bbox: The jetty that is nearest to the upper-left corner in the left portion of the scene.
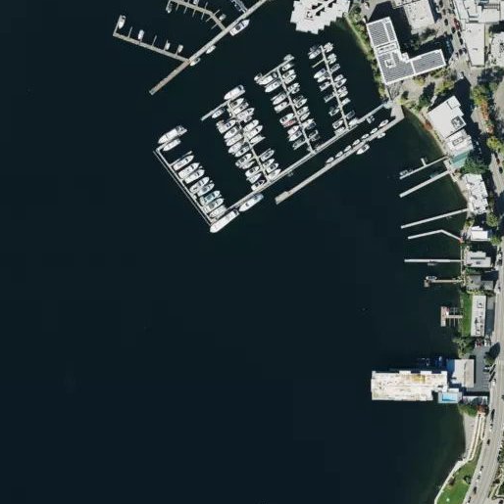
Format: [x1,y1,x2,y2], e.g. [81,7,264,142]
[114,22,188,61]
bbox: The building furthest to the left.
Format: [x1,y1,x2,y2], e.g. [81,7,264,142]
[290,0,350,34]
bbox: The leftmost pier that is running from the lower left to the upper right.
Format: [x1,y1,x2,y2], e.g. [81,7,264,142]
[150,0,273,95]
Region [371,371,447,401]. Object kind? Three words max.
building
